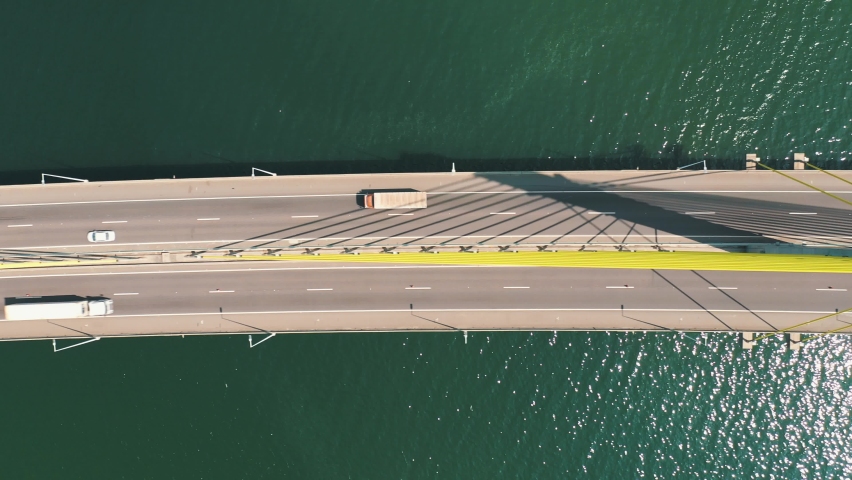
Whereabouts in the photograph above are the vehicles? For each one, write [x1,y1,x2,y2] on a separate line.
[364,192,428,211]
[5,298,115,319]
[90,230,117,242]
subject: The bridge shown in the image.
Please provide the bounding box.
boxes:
[0,153,852,350]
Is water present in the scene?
Yes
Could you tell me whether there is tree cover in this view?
No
